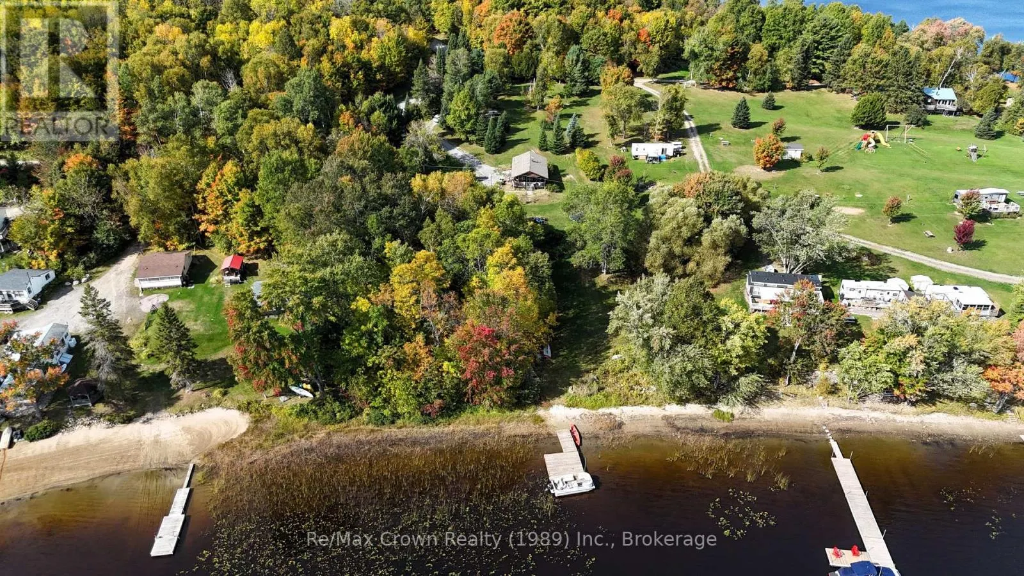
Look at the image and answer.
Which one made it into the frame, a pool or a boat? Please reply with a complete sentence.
The one in the frame is a boat.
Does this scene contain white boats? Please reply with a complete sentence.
Yes, I can see a white boat in this picture.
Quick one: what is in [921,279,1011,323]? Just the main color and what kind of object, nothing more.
white trailer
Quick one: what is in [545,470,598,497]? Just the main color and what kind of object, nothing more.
white boat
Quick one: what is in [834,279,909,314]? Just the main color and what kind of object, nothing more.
white trailer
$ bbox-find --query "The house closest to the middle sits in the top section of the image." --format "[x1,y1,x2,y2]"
[511,153,550,190]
